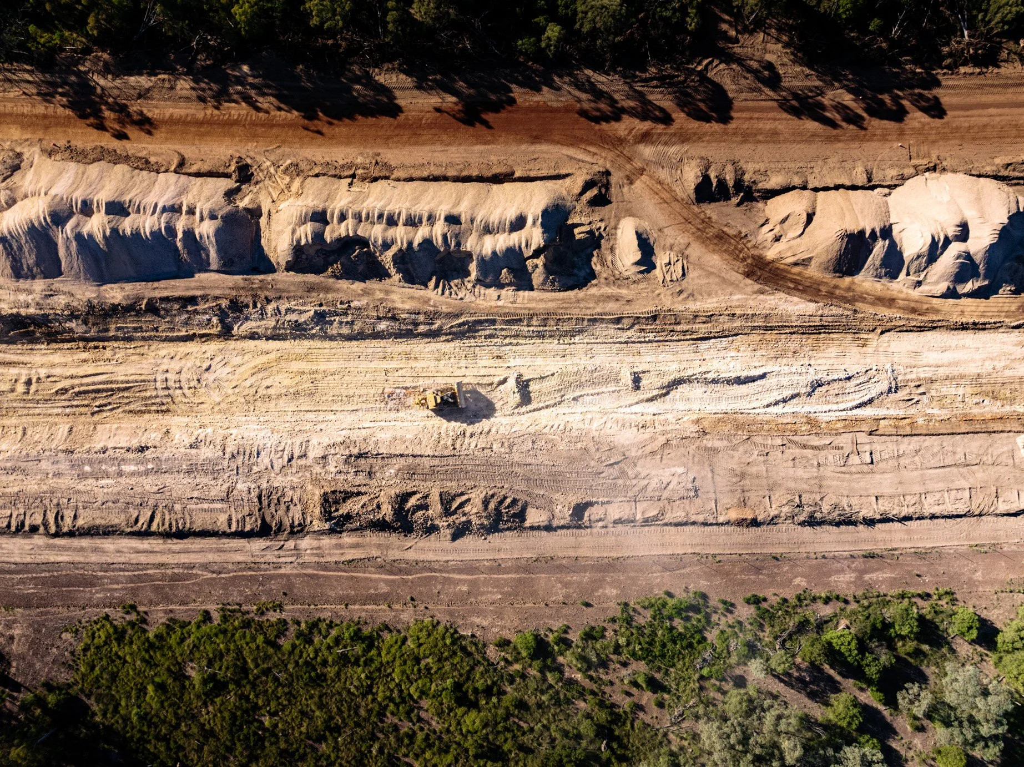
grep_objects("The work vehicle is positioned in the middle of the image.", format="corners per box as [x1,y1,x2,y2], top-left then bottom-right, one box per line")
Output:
[418,381,464,409]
